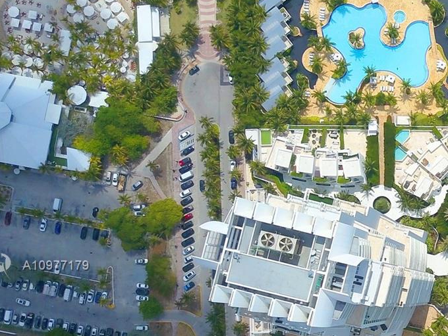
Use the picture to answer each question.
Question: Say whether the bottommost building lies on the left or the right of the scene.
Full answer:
The bottommost building is on the right side of the image.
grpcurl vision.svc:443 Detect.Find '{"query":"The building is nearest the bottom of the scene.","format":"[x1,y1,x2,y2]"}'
[193,199,435,336]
